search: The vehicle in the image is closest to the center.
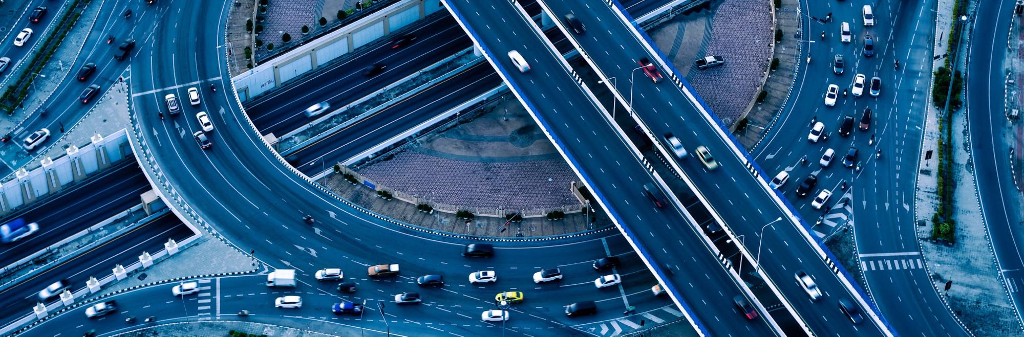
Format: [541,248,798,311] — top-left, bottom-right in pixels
[462,242,492,257]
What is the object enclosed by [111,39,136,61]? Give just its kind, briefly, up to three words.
truck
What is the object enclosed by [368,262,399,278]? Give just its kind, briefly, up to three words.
vehicle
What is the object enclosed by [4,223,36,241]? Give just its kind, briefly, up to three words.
vehicle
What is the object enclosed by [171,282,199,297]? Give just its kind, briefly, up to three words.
car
